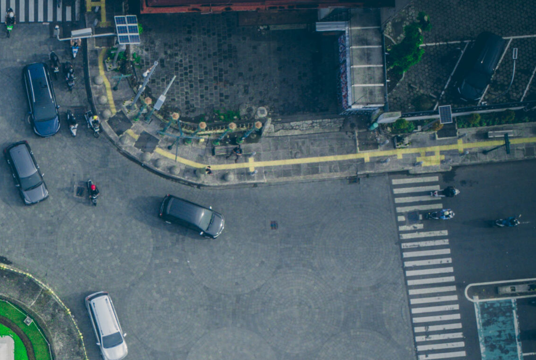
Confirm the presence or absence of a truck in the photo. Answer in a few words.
No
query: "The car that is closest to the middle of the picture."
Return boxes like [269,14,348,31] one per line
[158,193,222,240]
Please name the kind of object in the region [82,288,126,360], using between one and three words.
car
